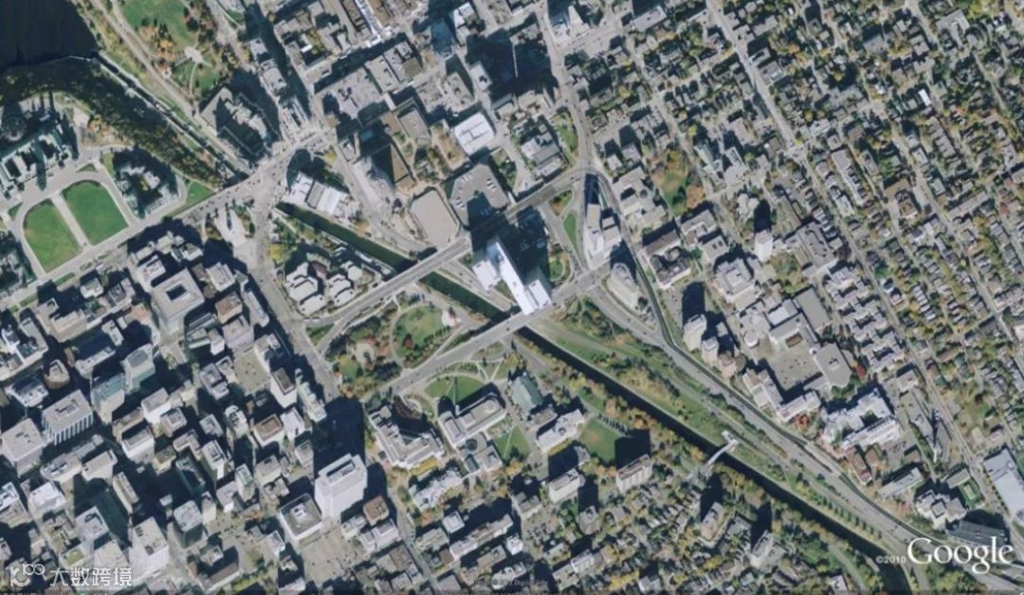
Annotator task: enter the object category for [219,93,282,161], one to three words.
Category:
building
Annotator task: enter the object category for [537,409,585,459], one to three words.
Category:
building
